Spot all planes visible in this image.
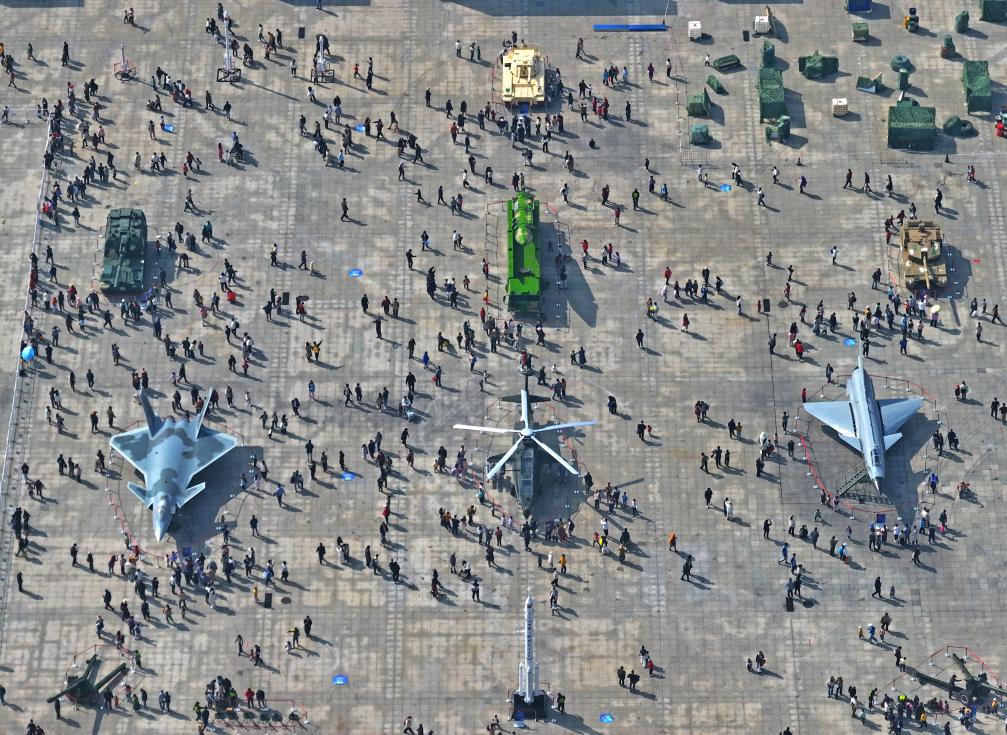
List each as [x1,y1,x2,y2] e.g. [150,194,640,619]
[801,342,922,502]
[112,386,239,542]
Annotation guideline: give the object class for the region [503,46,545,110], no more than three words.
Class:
vehicle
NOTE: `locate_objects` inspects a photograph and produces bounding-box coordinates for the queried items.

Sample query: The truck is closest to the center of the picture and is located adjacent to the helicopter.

[505,185,543,316]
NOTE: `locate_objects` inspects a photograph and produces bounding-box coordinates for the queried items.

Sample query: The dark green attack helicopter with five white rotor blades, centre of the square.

[453,361,598,526]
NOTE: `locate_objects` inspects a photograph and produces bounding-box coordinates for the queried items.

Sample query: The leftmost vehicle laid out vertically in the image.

[99,208,150,295]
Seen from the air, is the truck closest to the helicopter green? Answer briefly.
Yes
